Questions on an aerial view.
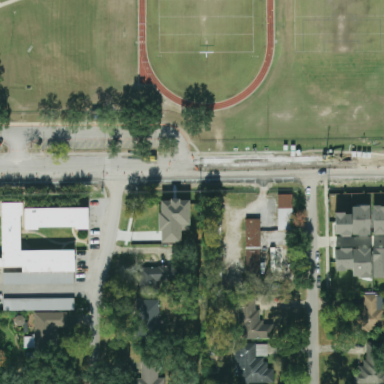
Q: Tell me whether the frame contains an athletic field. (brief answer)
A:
Yes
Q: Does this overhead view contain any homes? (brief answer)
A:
Yes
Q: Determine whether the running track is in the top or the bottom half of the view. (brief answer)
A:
top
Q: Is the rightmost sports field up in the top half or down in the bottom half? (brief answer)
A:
top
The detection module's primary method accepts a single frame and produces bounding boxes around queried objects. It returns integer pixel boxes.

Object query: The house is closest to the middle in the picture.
[160,198,190,243]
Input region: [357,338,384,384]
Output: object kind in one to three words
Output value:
house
